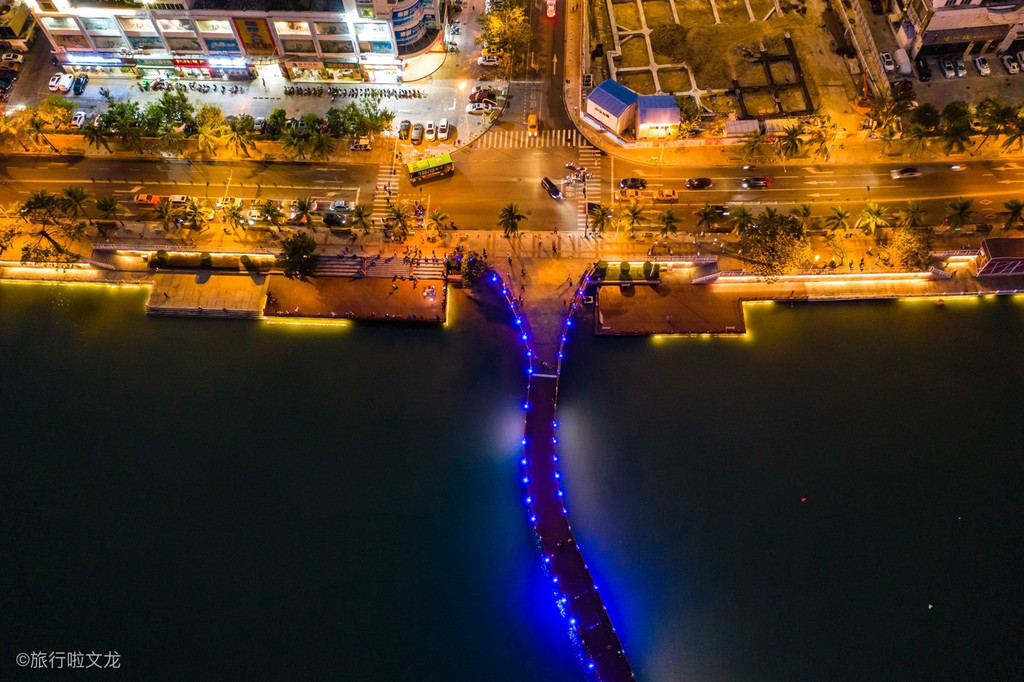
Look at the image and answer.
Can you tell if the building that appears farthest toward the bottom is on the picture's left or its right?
right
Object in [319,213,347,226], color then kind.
black vehicle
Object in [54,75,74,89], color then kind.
white vehicle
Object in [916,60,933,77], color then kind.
black car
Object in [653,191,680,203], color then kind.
yellow vehicle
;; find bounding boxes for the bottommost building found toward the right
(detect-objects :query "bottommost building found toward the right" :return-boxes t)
[976,235,1024,279]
